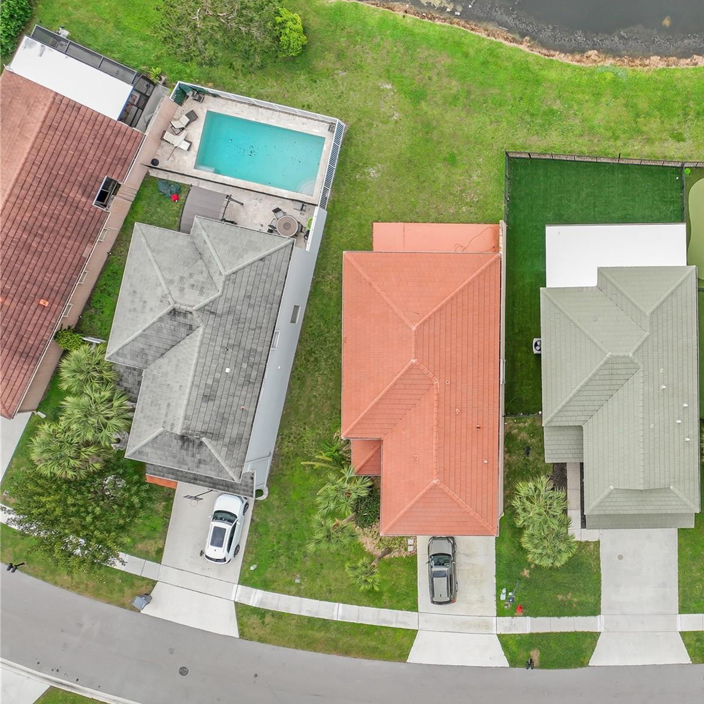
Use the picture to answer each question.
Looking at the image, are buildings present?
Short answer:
Yes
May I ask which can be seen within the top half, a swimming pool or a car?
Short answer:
swimming pool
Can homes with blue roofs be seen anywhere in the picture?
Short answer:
No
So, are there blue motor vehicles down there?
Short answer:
No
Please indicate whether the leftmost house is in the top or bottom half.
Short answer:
top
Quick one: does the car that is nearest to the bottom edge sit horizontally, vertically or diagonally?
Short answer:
vertically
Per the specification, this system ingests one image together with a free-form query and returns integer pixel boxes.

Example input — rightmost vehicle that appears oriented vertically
[425,536,458,606]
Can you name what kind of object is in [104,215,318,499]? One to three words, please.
house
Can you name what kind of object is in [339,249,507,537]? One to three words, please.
house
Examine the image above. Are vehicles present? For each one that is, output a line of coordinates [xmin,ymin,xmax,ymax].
[203,493,247,564]
[425,536,458,606]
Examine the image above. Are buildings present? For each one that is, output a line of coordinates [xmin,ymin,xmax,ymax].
[104,215,318,499]
[339,249,507,537]
[540,223,702,529]
[0,34,158,420]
